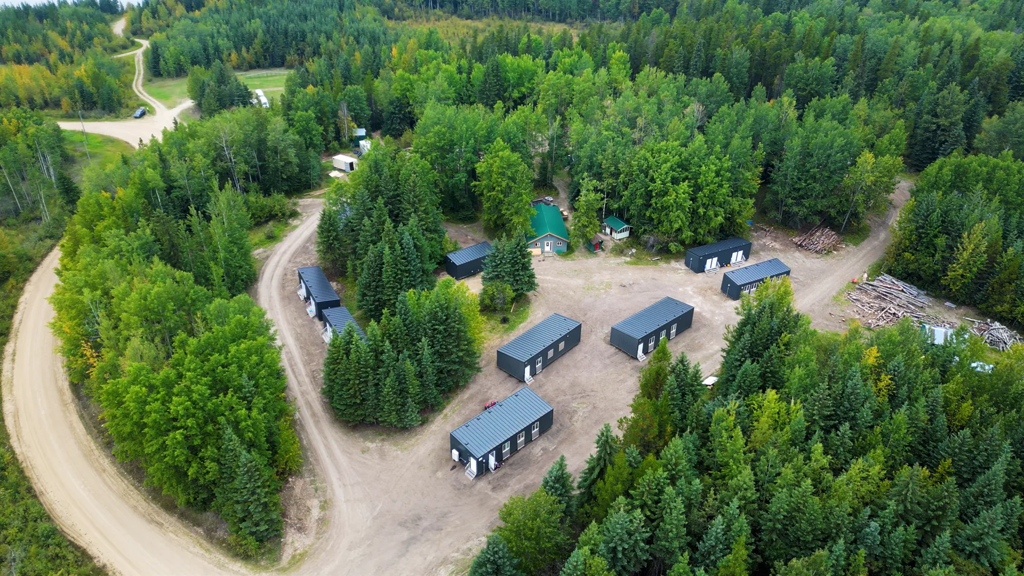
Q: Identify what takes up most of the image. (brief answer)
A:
trees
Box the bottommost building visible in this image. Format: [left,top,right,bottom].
[448,387,555,483]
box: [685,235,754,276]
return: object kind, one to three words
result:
building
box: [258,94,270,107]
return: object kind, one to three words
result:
vehicle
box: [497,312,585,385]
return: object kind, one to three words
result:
building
